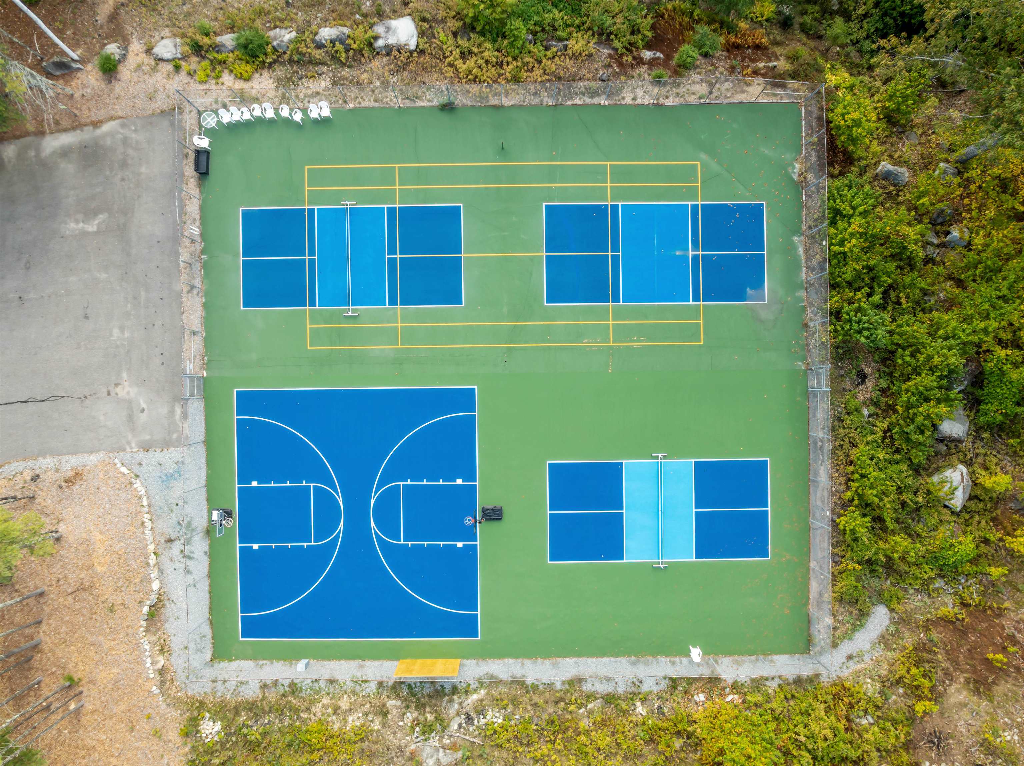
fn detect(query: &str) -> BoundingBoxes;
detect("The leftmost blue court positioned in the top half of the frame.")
[240,204,464,309]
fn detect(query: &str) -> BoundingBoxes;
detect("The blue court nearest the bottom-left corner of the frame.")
[235,387,479,641]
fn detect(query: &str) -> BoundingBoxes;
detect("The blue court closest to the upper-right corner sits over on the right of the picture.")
[544,202,767,304]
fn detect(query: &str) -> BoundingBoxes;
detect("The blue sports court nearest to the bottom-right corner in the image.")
[547,459,770,563]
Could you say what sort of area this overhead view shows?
sports ground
